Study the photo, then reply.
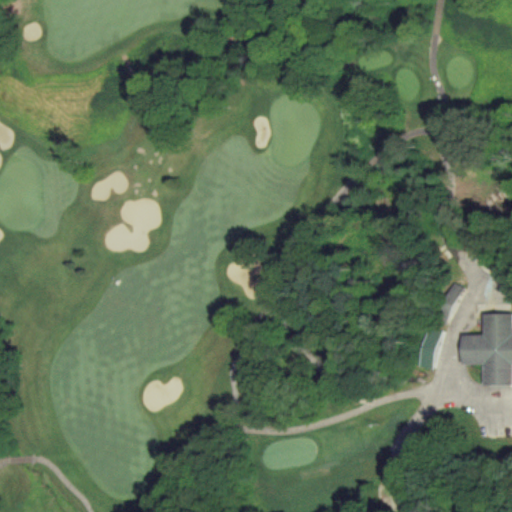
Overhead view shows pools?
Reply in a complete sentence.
No, no pool is visible in the scene.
